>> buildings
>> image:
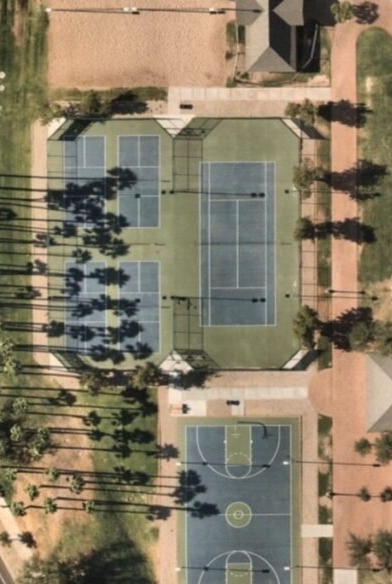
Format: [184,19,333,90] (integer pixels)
[235,0,303,72]
[366,352,392,432]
